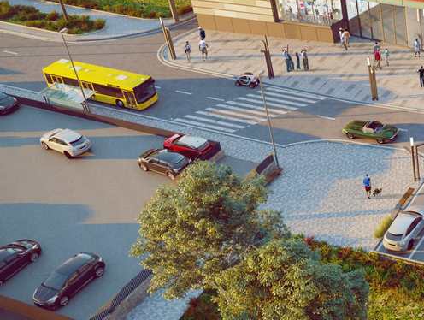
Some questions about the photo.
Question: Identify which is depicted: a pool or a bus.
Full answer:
Visible in the photo is a bus.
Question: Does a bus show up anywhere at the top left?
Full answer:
Yes, looking at the top left, one can make out a bus.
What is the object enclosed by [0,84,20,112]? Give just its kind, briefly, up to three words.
car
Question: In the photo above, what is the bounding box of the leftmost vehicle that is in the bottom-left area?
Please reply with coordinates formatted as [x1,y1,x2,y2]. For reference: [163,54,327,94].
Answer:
[0,238,43,272]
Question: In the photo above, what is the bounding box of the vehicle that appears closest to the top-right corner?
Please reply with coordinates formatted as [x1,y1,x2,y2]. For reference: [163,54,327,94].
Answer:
[341,115,400,139]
